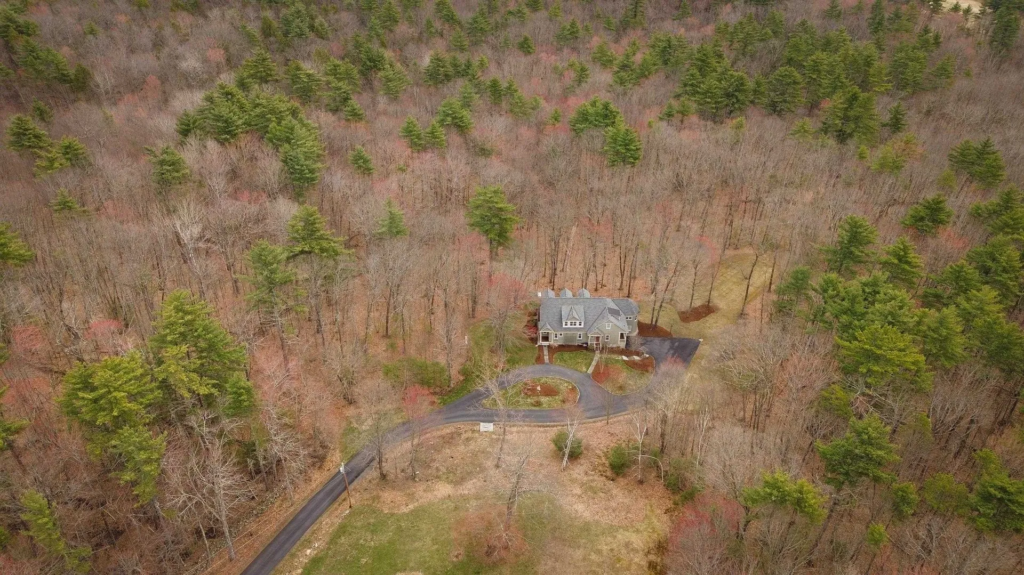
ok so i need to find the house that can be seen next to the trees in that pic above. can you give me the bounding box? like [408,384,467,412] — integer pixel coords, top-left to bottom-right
[536,287,642,354]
